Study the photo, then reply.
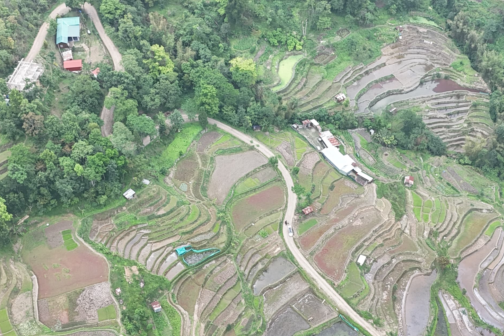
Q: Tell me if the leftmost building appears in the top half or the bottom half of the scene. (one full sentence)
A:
The leftmost building is in the top half of the image.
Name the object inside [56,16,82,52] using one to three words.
house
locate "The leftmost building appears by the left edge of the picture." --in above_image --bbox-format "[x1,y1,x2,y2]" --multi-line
[5,60,39,93]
